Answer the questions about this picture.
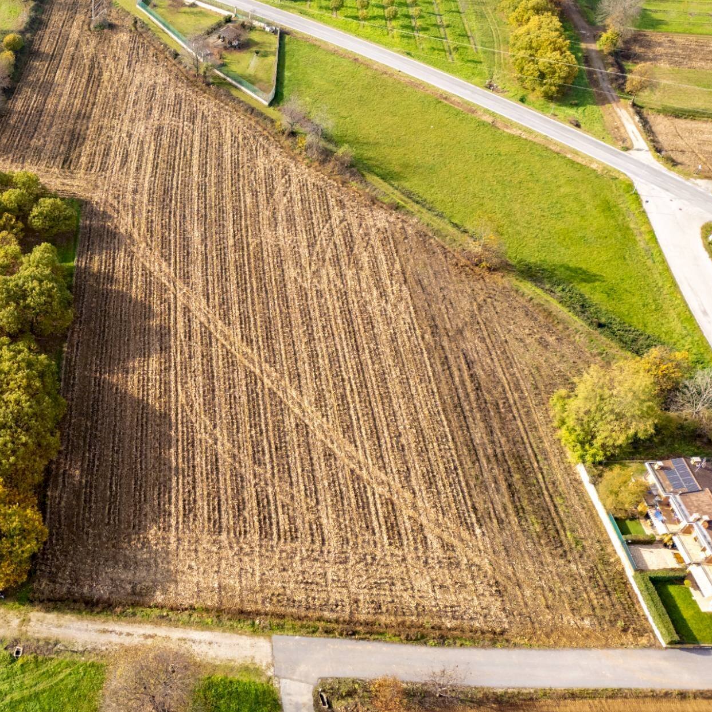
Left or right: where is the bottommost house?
right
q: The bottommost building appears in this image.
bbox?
[689,556,712,600]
